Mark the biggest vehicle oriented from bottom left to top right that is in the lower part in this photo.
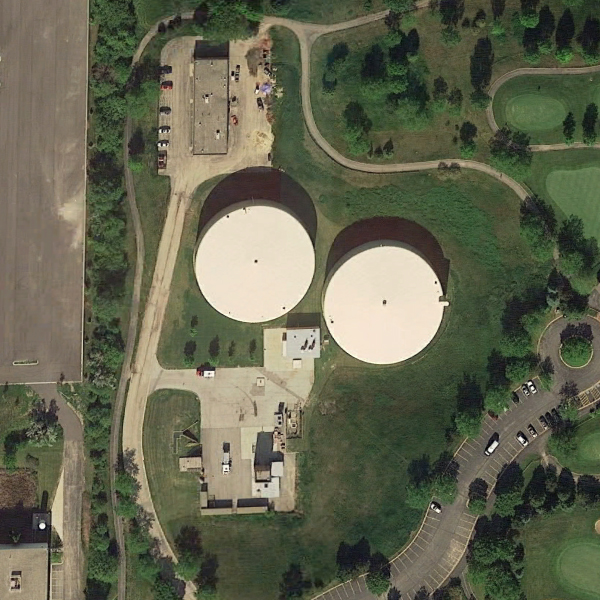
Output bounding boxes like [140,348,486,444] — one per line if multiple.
[485,437,500,454]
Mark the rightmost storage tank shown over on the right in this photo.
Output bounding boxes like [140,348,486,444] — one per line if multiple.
[322,238,450,364]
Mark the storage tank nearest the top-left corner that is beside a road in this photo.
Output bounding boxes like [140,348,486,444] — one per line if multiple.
[194,196,317,323]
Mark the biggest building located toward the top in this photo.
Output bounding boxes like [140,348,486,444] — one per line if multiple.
[193,56,229,154]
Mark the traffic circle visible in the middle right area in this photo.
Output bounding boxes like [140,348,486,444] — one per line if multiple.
[537,309,600,384]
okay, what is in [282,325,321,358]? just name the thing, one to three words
building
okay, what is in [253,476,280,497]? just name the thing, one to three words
building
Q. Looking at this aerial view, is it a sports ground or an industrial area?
industrial area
